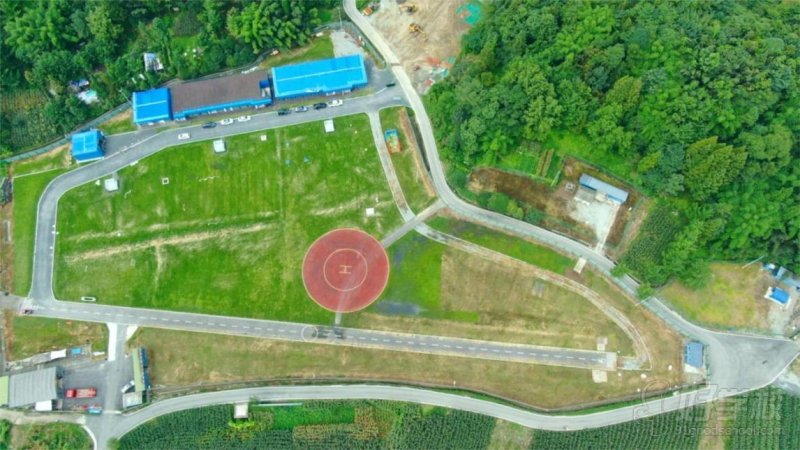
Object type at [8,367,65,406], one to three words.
building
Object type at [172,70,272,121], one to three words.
building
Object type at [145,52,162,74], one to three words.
house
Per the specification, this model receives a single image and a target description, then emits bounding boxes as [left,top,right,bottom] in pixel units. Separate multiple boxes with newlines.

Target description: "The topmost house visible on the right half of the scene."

[574,173,627,209]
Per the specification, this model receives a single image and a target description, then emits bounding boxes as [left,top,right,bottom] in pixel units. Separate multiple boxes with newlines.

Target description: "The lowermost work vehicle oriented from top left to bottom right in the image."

[408,20,425,36]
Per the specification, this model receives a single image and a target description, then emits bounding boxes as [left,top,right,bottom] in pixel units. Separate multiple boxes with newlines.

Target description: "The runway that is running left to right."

[22,297,616,383]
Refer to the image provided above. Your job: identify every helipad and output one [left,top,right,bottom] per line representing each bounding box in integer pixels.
[302,230,389,313]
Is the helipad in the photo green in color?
No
